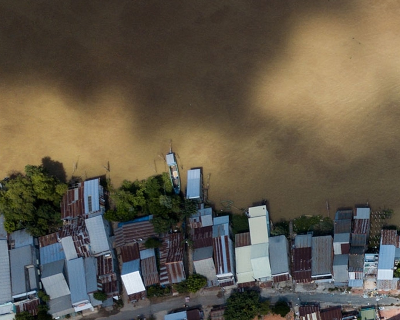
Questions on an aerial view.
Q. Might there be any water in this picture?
Yes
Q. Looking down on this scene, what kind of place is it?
residential area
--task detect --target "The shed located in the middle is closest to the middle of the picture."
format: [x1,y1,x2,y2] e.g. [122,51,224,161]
[186,169,206,199]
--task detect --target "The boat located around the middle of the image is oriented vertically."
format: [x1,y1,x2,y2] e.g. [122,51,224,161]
[166,141,182,192]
